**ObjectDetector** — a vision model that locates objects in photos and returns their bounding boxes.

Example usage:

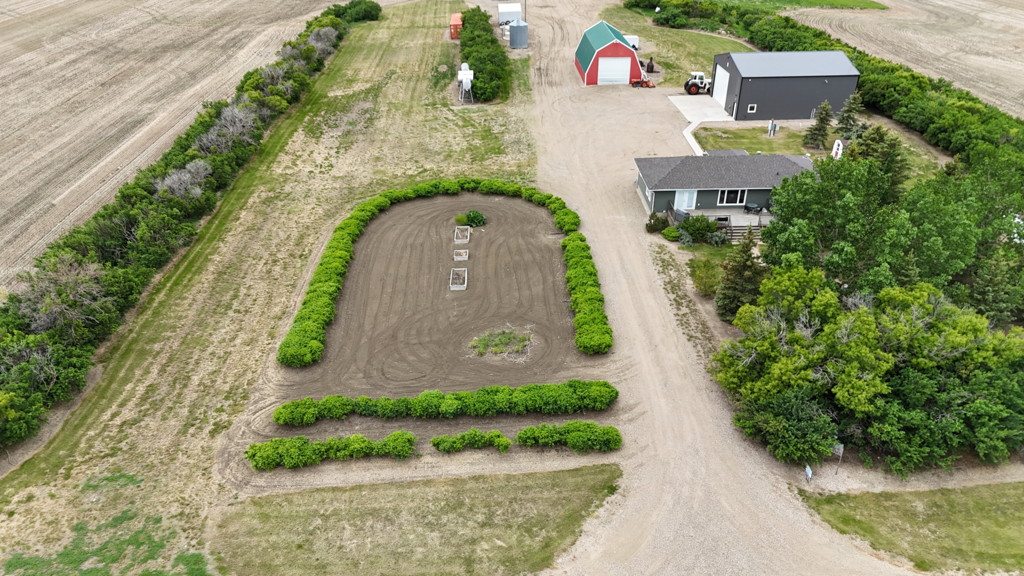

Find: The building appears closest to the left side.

[574,20,643,85]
